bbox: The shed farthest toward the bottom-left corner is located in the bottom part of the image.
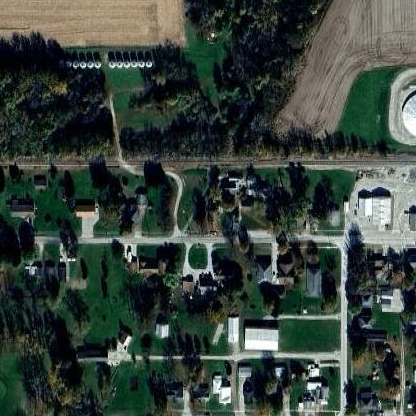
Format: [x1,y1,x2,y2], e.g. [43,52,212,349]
[77,343,107,358]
